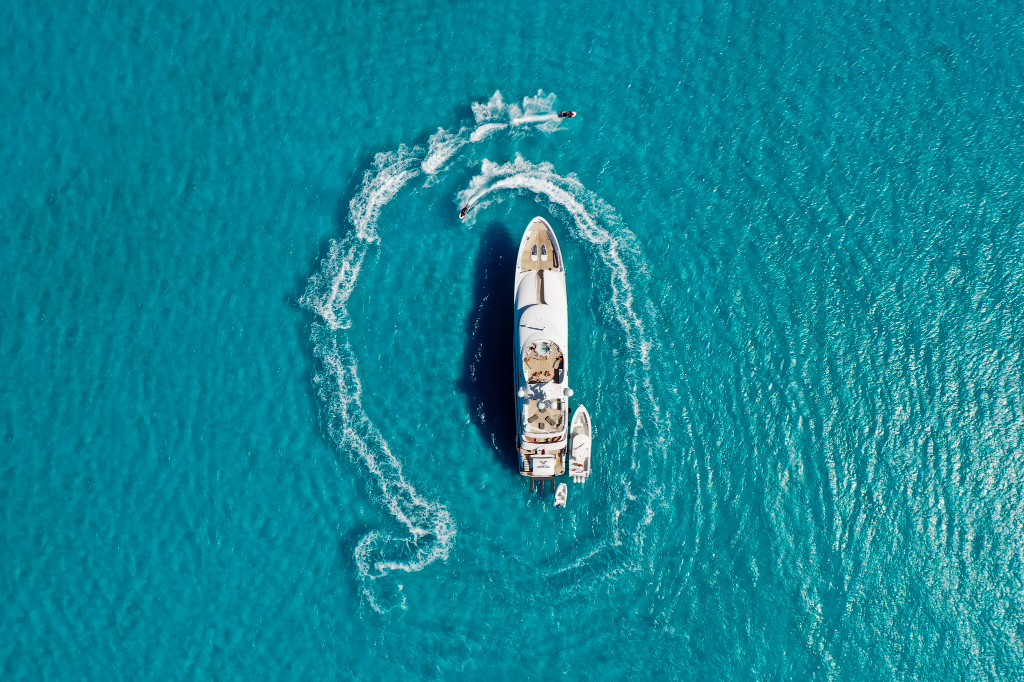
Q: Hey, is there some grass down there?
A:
No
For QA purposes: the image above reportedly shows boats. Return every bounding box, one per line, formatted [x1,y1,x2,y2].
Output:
[513,217,573,477]
[460,203,470,219]
[569,404,592,484]
[558,111,576,118]
[553,482,568,510]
